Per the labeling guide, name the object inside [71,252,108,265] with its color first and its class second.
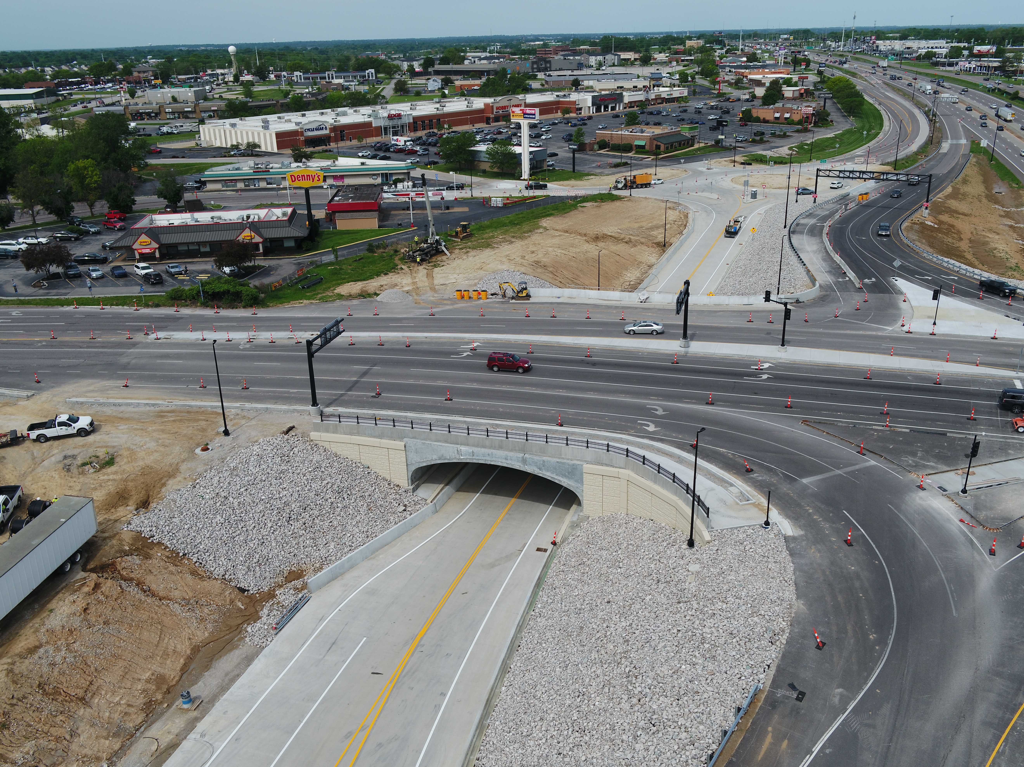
black vehicle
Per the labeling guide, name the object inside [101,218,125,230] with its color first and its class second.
red vehicle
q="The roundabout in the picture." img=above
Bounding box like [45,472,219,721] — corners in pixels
[387,157,865,210]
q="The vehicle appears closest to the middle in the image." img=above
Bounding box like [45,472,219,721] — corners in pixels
[485,350,533,373]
